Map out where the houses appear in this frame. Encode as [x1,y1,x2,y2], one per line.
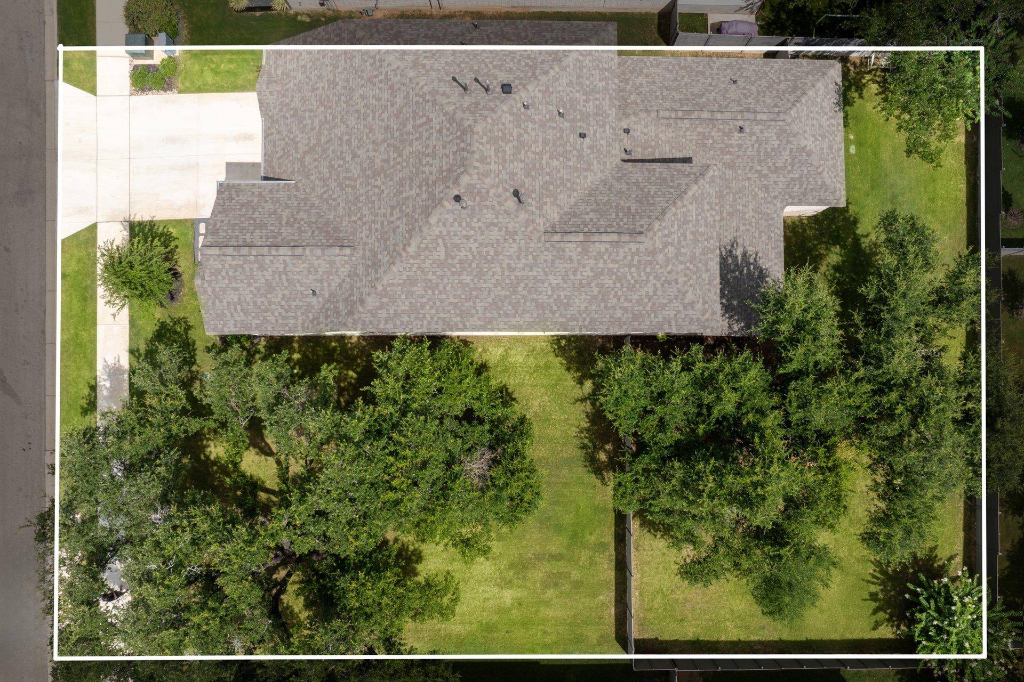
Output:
[195,17,847,339]
[285,0,763,12]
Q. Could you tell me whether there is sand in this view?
No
